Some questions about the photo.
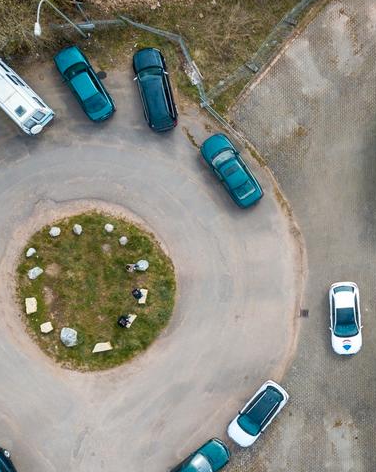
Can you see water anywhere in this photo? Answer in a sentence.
No, the picture contains no water.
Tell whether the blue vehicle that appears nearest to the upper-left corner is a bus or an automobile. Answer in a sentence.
I'd say the blue vehicle that appears nearest to the upper-left corner is an automobile.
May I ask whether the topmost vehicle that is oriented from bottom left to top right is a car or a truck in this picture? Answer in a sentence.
The topmost vehicle that is oriented from bottom left to top right appears to be a car.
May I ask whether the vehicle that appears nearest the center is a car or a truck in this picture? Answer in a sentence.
The vehicle that appears nearest the center is a car.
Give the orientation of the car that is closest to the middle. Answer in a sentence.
The car that is closest to the middle runs on a diagonal in the image.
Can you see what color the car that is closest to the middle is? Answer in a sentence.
From above, the car that is closest to the middle appears blue.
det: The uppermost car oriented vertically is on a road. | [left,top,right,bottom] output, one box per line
[132,49,179,132]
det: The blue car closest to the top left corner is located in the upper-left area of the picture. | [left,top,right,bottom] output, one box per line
[58,49,116,121]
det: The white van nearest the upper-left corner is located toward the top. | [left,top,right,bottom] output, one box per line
[0,60,56,137]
